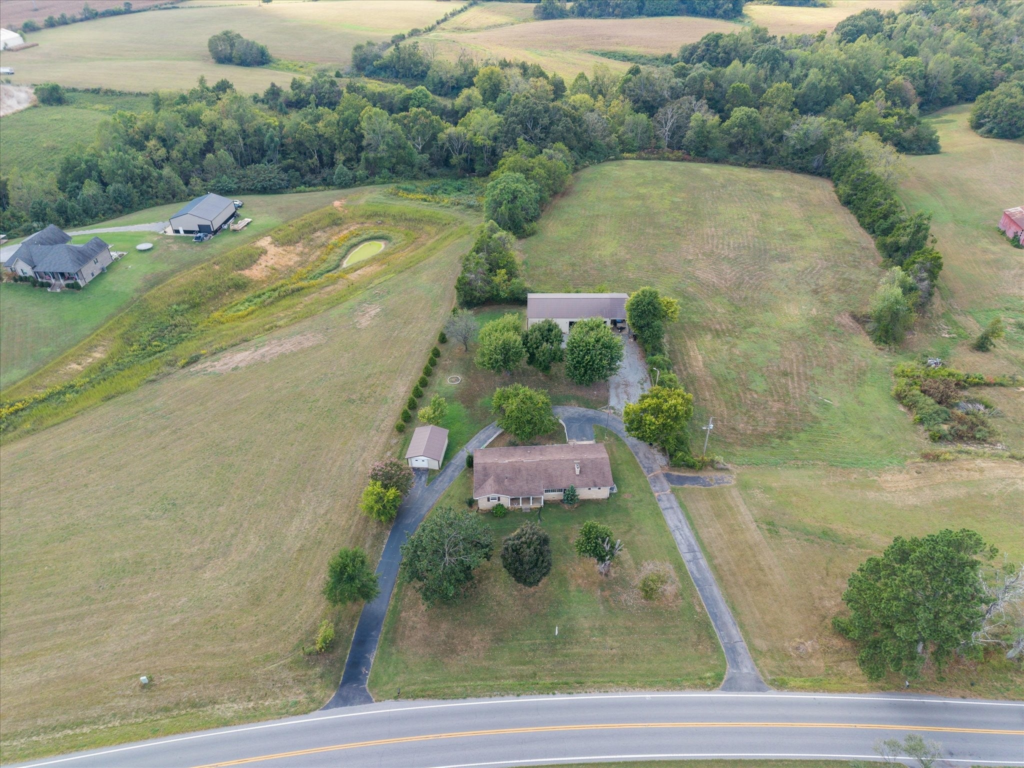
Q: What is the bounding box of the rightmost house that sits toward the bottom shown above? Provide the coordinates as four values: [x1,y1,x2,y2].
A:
[473,444,619,510]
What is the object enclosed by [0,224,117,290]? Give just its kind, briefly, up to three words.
house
